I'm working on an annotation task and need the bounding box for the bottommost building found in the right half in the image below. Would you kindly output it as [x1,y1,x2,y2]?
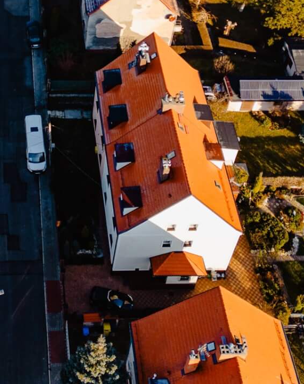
[128,285,300,384]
